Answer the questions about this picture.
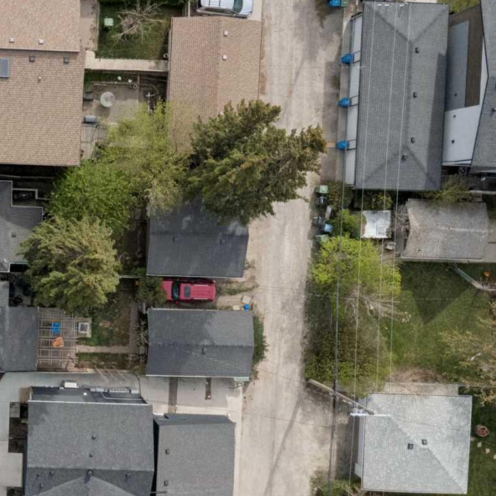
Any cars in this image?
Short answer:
Yes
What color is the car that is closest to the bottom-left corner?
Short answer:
red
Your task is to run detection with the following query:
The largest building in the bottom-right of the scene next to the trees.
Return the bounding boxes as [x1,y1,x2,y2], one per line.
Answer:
[341,391,473,495]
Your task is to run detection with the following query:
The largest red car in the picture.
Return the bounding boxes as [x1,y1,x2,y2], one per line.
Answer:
[161,278,217,306]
